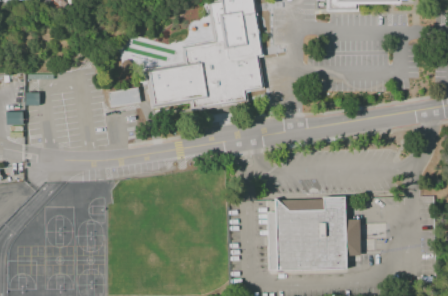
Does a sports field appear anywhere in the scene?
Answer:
Yes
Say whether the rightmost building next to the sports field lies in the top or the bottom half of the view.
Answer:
bottom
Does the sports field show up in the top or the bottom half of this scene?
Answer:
bottom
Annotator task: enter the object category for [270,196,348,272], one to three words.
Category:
building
